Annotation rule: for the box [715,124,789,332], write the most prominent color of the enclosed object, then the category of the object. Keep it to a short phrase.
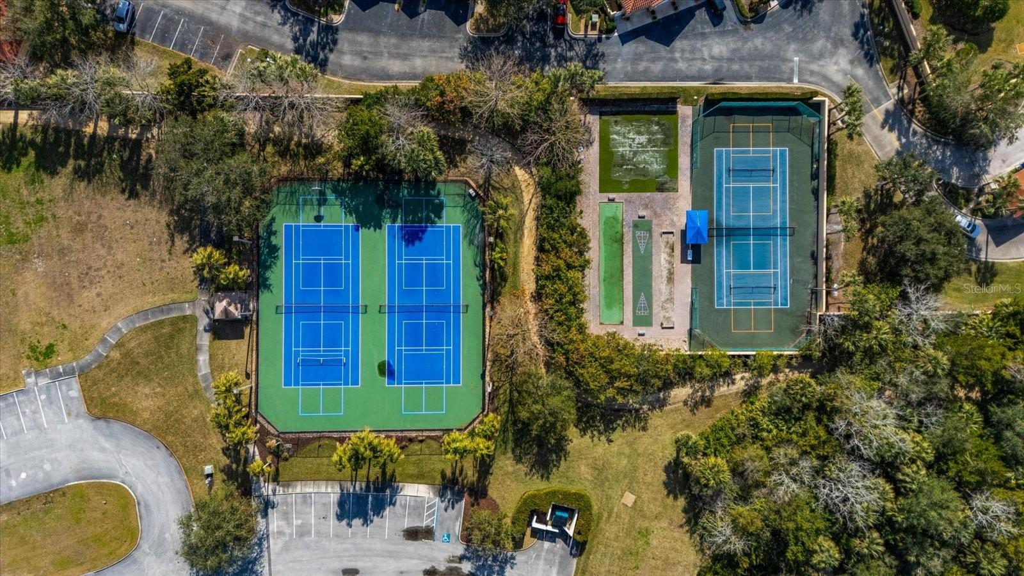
blue tennis court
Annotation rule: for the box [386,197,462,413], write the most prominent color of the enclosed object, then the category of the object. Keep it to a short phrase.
blue tennis court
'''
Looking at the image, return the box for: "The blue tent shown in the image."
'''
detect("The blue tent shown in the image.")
[683,210,708,245]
